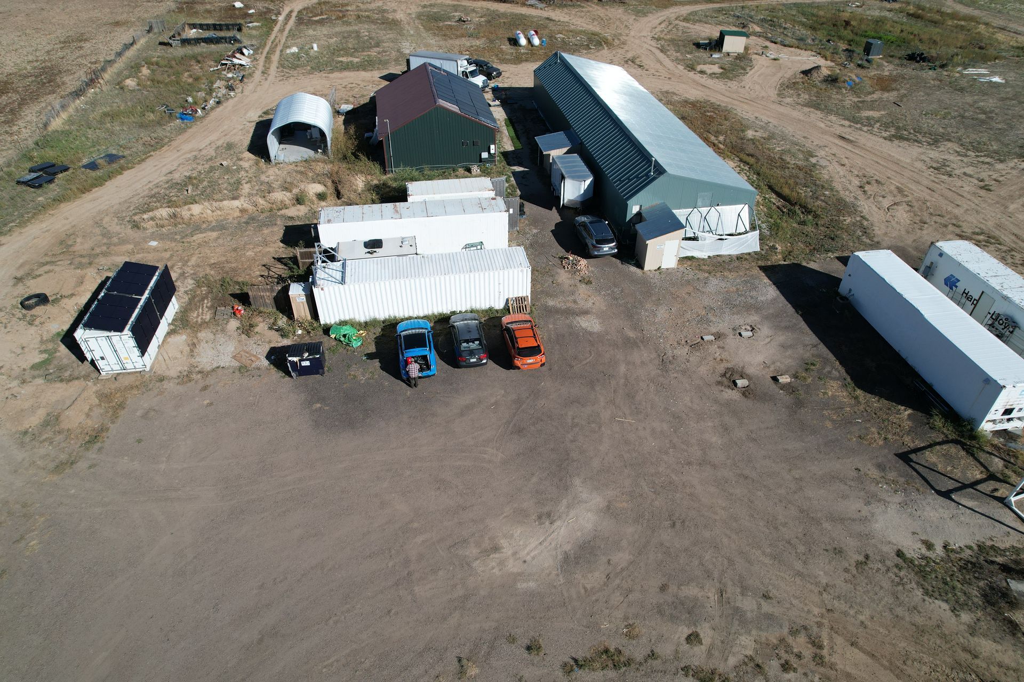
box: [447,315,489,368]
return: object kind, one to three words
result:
car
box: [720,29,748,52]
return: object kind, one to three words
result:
shed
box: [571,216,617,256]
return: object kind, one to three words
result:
car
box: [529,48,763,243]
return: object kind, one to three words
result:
building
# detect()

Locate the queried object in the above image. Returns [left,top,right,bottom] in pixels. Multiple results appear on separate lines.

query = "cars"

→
[464,60,502,84]
[447,315,489,368]
[395,321,438,380]
[571,216,617,256]
[504,314,549,368]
